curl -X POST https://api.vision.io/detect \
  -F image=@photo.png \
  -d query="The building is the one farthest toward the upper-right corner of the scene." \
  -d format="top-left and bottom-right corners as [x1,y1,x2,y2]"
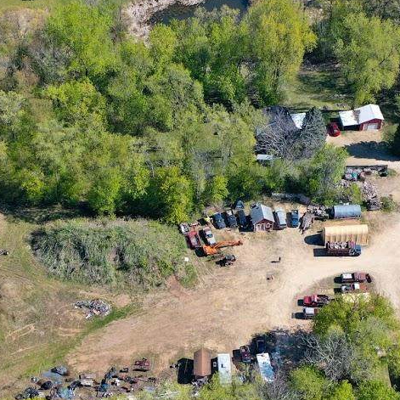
[340,104,387,129]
